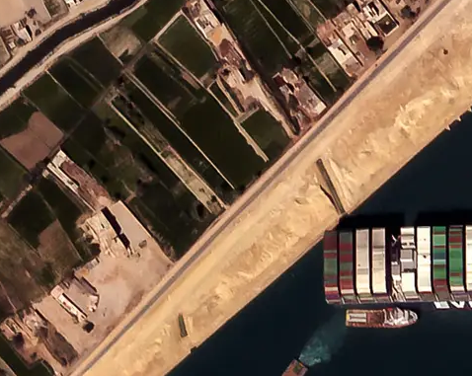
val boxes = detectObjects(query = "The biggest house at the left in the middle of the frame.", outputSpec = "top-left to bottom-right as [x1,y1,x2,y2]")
[83,209,110,241]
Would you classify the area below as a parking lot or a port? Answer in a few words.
port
